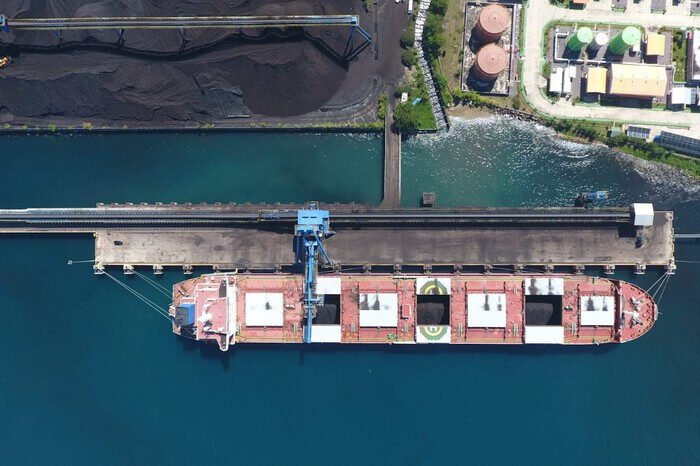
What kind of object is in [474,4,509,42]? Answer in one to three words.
storage tank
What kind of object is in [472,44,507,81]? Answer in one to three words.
storage tank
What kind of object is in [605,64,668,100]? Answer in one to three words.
building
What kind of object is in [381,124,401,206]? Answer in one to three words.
bridge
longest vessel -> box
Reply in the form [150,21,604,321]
[170,268,663,353]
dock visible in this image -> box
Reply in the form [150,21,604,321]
[94,204,675,265]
